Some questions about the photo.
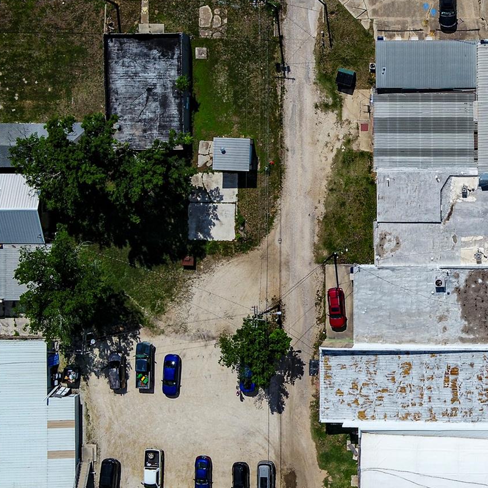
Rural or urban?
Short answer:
urban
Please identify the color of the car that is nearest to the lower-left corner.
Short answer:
black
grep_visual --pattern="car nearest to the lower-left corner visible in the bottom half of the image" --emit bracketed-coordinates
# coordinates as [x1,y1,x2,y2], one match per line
[99,457,119,488]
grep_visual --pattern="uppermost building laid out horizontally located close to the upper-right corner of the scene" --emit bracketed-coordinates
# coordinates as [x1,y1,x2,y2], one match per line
[375,40,477,90]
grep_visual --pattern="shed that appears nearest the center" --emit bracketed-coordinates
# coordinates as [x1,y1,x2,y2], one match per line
[212,138,255,171]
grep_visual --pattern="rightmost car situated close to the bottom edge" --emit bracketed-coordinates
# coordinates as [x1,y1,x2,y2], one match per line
[258,458,276,488]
